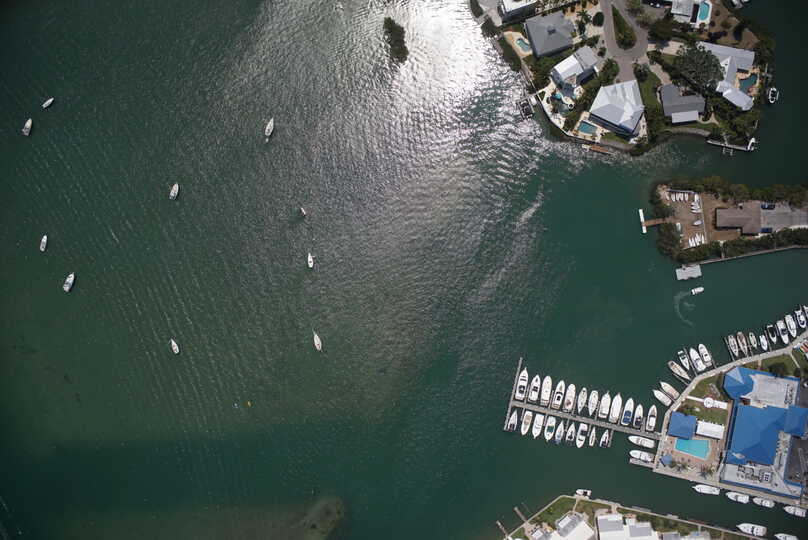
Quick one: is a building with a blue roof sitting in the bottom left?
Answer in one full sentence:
No, I see no building with a blue roof in the bottom left.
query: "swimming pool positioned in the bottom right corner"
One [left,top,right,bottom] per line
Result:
[675,437,711,460]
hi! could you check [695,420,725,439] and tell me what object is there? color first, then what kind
white tent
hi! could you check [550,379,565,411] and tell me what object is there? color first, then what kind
white boat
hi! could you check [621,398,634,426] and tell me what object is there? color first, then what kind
white boat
